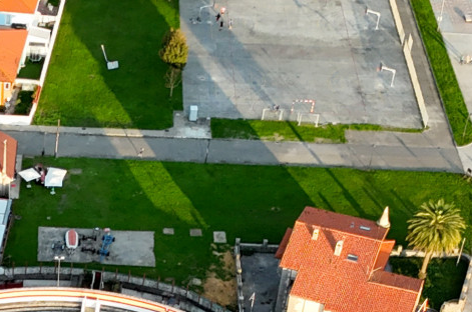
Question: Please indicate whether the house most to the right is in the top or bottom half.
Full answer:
You can find the house most to the right in the bottom half.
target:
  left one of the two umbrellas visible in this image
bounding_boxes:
[16,164,45,191]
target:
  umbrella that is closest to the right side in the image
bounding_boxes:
[41,170,70,195]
